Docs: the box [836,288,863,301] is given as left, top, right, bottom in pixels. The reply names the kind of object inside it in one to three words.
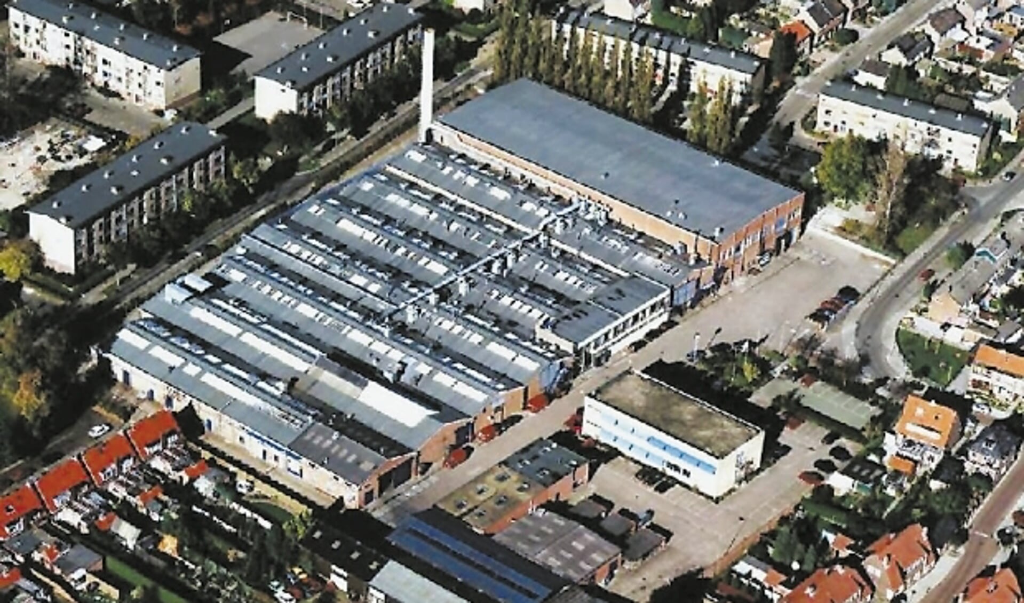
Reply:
vehicle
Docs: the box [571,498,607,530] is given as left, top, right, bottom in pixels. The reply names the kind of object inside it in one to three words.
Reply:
building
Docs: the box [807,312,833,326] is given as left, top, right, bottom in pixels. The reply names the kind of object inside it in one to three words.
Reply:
car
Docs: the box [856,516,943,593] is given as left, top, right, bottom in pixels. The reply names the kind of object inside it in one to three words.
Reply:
house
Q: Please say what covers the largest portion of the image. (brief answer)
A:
buildings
